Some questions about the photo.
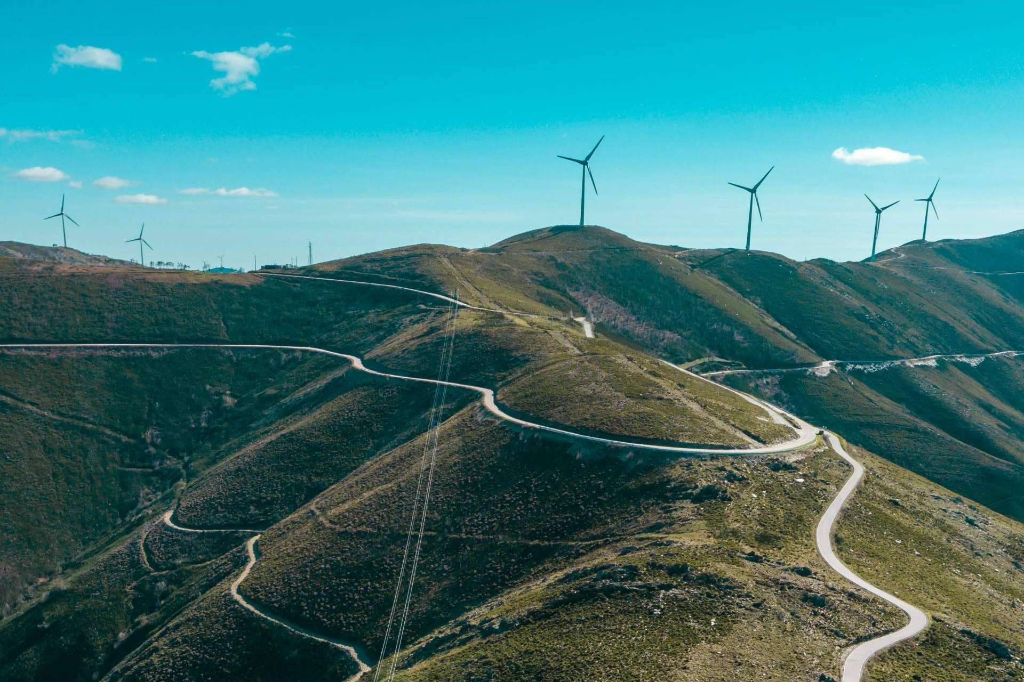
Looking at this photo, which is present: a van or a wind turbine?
wind turbine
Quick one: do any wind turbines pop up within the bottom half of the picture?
No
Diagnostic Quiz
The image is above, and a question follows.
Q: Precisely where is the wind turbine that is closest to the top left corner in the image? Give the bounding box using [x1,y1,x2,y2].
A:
[42,195,80,247]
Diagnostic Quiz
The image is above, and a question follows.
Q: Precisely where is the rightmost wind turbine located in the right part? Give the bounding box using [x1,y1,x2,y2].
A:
[908,177,938,240]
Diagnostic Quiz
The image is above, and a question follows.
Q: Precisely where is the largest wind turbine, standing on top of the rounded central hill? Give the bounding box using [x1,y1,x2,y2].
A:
[554,130,603,227]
